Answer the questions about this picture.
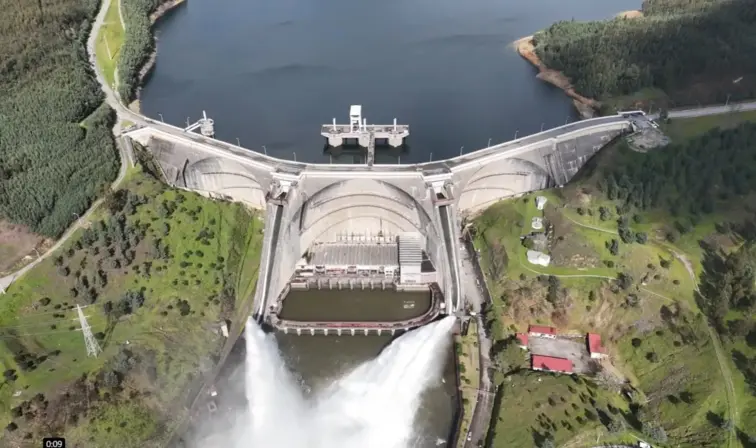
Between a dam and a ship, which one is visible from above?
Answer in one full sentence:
I can see a dam in this picture.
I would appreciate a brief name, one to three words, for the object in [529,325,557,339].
house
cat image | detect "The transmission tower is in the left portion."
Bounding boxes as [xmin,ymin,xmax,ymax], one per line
[0,303,107,361]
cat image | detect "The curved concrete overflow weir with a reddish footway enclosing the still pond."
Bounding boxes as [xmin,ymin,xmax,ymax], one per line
[277,286,439,340]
